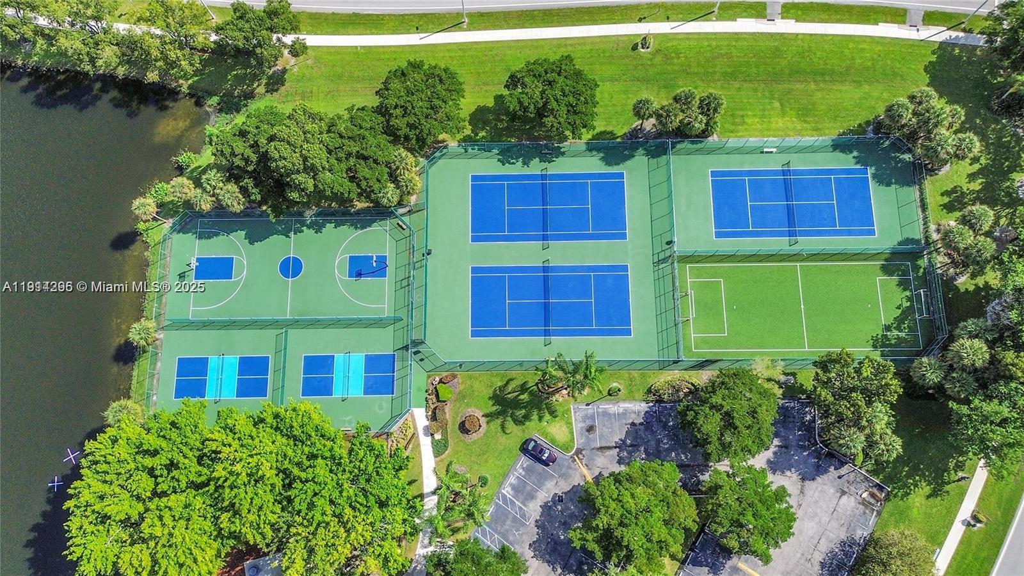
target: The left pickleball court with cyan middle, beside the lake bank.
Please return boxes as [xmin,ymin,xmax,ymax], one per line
[174,356,269,399]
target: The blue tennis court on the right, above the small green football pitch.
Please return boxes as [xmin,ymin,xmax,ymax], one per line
[711,168,877,239]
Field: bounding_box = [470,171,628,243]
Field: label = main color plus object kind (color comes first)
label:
blue tennis court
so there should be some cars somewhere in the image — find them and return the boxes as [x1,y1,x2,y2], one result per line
[522,437,557,465]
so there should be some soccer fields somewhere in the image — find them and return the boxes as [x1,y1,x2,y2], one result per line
[678,254,935,360]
